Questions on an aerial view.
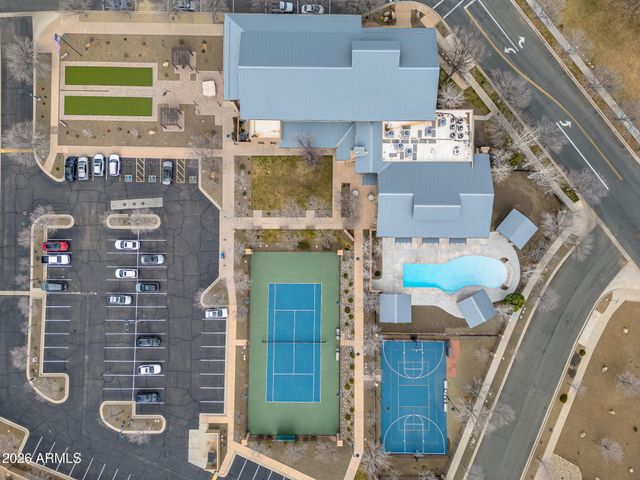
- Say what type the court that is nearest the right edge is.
basketball court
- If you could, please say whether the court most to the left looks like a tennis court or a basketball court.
tennis court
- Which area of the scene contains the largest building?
top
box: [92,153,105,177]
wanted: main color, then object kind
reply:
white vehicle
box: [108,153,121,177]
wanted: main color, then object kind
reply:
white vehicle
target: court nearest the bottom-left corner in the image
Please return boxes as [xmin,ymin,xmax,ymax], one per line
[249,252,341,437]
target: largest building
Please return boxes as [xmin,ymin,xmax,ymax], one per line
[224,13,494,244]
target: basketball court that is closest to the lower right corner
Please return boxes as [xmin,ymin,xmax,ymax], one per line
[381,341,448,454]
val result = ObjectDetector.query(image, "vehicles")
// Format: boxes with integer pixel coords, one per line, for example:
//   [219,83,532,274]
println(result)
[77,156,90,181]
[266,0,294,13]
[63,156,78,181]
[116,239,140,250]
[42,240,69,252]
[116,268,139,279]
[136,392,161,403]
[161,161,173,184]
[41,254,71,266]
[204,308,228,319]
[141,254,166,265]
[136,282,160,293]
[137,336,162,348]
[109,295,133,306]
[108,153,121,177]
[41,281,69,292]
[174,0,197,11]
[301,2,324,13]
[92,153,105,177]
[138,364,162,375]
